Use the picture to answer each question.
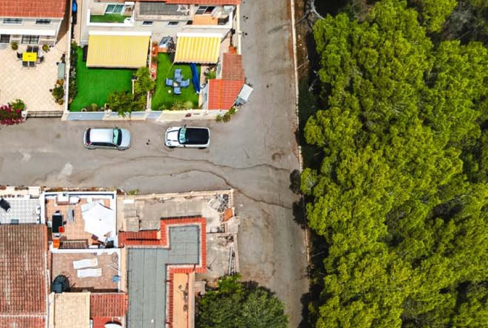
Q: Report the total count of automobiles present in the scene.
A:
two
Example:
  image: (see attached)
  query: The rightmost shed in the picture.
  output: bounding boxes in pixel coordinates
[198,53,245,111]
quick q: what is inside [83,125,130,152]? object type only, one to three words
car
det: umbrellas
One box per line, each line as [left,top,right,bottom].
[78,200,120,240]
[189,63,201,102]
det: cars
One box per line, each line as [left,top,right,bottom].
[163,124,211,150]
[83,125,130,152]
